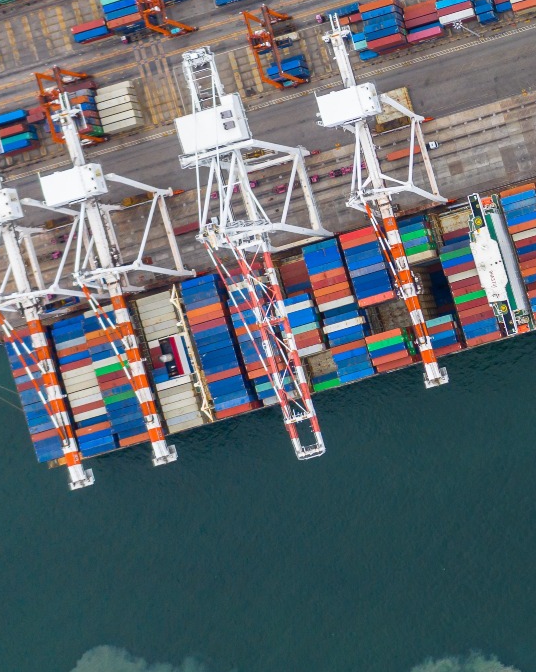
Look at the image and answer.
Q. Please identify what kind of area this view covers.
port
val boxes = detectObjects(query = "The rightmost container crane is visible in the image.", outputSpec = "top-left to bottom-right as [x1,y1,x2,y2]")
[313,13,462,387]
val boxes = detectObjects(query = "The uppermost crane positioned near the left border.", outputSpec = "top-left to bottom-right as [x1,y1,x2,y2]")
[24,63,97,145]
